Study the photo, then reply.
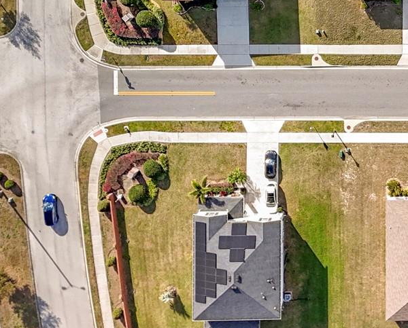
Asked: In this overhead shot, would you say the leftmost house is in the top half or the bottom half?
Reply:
bottom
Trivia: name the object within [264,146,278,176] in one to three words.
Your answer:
car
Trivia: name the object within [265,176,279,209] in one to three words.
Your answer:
car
